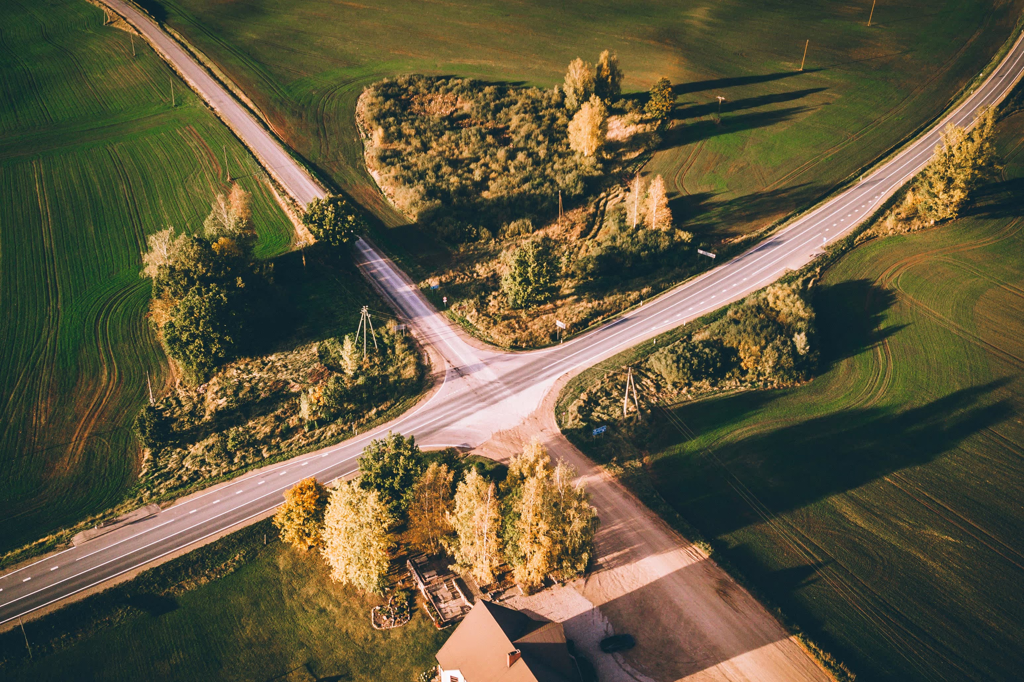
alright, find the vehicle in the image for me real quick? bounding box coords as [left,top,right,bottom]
[600,633,638,655]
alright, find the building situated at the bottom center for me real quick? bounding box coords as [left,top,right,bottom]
[434,598,585,682]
